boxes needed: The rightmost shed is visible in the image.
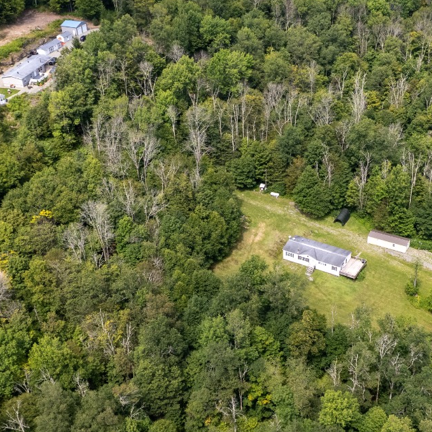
[367,229,412,252]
